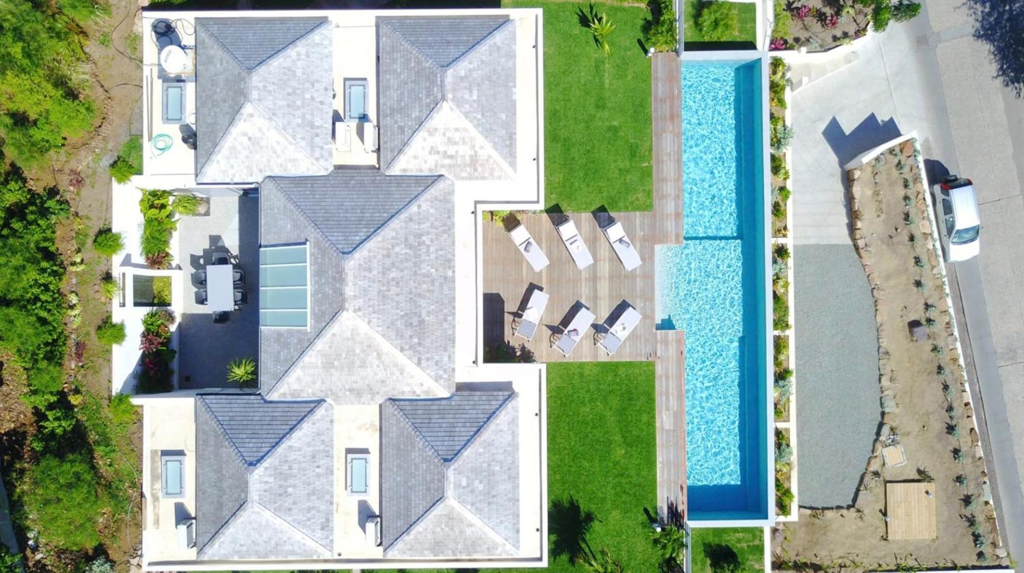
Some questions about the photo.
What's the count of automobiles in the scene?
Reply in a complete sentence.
Just 1 automobile appears in this view.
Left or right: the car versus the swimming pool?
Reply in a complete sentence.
Relative to the swimming pool, the car is on the right.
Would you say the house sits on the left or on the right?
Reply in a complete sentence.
You can find the house on the left side of the picture.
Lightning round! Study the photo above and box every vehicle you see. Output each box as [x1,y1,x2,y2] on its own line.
[936,178,986,262]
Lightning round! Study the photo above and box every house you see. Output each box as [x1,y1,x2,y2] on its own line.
[141,7,548,570]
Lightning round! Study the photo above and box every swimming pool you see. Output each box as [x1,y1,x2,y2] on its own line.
[675,47,777,531]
